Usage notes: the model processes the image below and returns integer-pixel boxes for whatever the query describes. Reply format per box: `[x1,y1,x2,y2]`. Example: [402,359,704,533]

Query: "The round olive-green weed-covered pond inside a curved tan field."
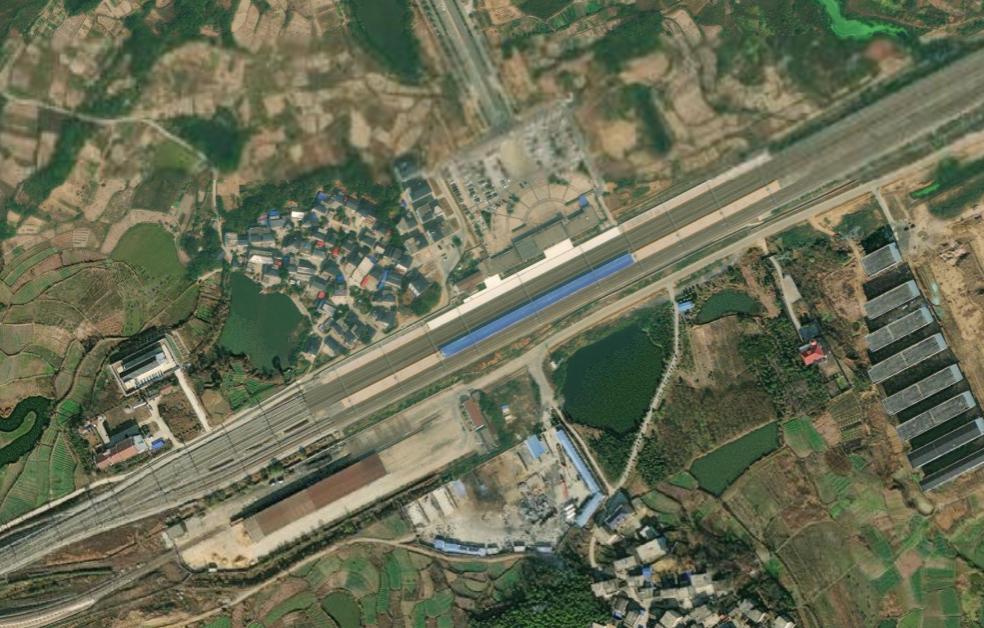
[111,223,184,279]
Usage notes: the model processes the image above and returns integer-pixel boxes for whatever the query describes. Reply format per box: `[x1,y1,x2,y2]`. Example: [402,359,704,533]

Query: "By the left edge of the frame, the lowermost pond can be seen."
[0,397,53,470]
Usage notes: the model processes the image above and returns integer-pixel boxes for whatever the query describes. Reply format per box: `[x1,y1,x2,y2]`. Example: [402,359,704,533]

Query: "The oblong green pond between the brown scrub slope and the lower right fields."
[688,422,778,497]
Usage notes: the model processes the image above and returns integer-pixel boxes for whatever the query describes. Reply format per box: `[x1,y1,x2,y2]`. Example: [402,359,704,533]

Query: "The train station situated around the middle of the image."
[279,154,784,406]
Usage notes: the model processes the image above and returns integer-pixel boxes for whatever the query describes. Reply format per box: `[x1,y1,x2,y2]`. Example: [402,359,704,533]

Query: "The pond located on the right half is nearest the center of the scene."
[563,322,665,433]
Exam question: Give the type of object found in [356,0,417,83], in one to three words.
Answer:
pond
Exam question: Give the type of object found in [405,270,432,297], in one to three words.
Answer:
house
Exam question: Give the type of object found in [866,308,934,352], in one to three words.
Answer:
shed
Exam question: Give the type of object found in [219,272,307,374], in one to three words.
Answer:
pond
